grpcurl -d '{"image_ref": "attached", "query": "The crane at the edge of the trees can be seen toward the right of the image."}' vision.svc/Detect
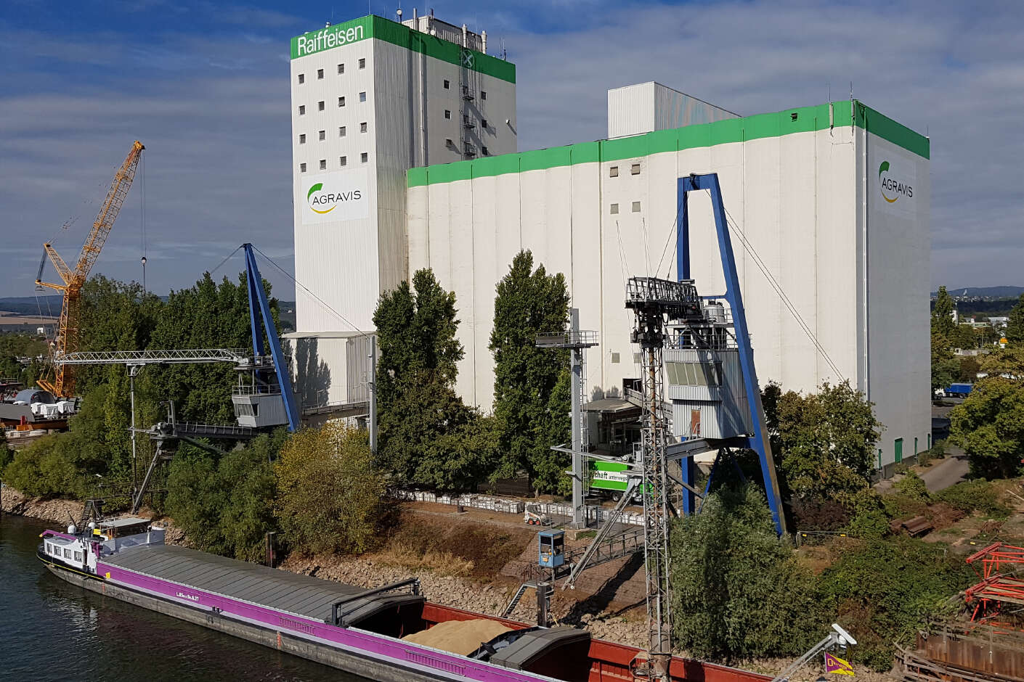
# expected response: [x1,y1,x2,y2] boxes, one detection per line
[612,173,834,682]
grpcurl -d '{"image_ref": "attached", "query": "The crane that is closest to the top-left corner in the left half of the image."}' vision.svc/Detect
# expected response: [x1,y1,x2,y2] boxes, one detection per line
[33,140,147,399]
